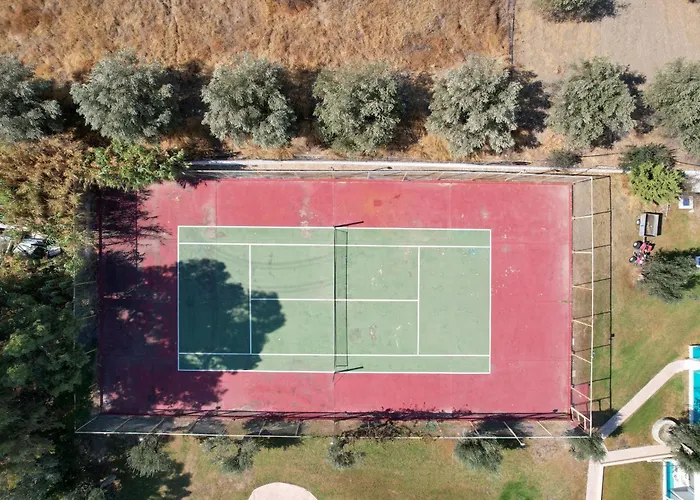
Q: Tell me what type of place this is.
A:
sports ground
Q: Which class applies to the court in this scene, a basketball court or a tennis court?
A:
tennis court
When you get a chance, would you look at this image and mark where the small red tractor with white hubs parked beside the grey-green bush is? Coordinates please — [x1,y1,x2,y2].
[629,239,657,267]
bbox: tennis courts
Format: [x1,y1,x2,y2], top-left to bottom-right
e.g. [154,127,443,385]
[96,178,588,434]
